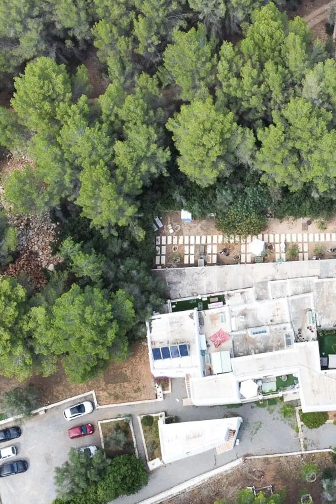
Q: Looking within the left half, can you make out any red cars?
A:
Yes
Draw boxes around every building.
[146,413,245,470]
[146,259,336,414]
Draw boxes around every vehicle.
[0,460,29,477]
[68,423,95,439]
[62,400,95,421]
[0,445,18,461]
[0,425,22,442]
[73,442,99,457]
